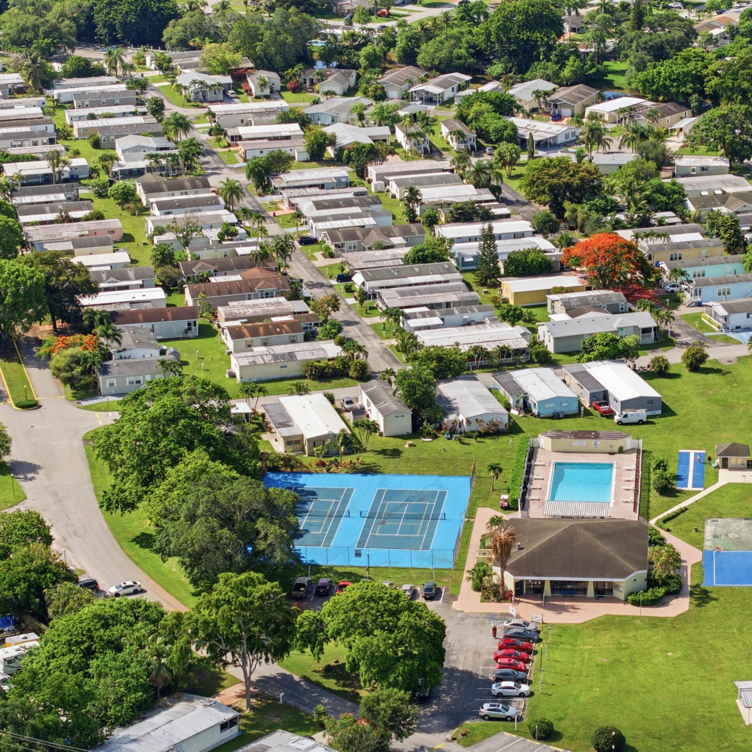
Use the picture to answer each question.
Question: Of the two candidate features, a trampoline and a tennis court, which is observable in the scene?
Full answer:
This aerial view contains a tennis court.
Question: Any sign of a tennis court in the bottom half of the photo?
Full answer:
Yes, in the bottom half of the photo there is a tennis court.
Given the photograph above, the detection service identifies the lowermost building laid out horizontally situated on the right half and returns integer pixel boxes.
[479,519,649,598]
